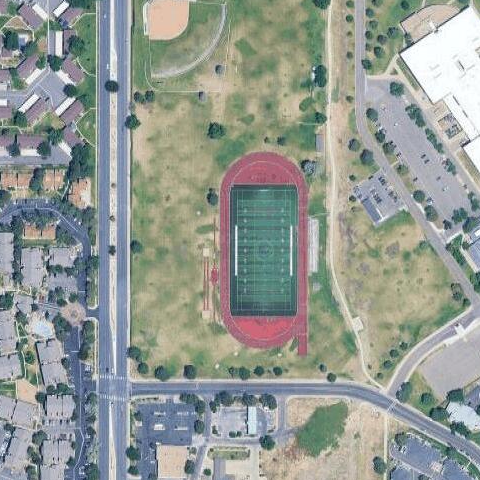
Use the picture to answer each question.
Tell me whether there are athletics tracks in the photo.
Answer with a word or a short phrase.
Yes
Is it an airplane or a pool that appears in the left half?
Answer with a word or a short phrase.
pool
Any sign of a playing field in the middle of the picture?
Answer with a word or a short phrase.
Yes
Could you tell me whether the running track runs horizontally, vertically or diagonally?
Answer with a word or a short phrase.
vertically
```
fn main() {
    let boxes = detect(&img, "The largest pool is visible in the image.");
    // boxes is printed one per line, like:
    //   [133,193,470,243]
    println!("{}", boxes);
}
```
[30,313,59,342]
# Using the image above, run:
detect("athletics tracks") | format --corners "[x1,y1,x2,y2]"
[220,151,308,355]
